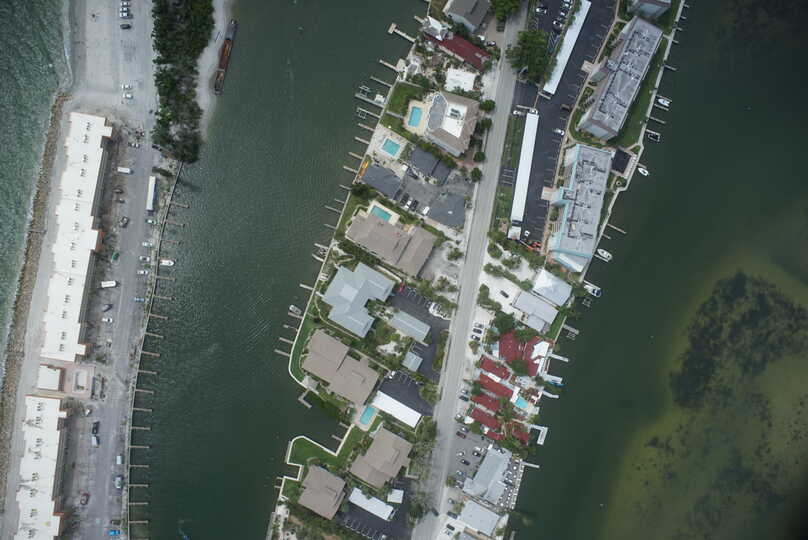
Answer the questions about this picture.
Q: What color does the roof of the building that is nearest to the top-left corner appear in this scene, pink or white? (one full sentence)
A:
In this view, the roof of the building that is nearest to the top-left corner is white.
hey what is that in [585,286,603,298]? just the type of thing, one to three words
boat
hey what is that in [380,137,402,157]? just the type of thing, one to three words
swimming pool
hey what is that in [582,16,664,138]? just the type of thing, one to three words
building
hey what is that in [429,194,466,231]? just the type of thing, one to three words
house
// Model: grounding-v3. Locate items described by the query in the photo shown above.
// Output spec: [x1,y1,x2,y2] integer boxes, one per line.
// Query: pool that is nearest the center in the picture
[369,204,392,223]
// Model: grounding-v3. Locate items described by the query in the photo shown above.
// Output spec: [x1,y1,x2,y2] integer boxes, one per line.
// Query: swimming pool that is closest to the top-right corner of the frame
[407,105,424,128]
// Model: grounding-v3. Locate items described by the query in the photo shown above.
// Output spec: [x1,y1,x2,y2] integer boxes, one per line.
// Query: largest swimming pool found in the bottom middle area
[359,406,376,426]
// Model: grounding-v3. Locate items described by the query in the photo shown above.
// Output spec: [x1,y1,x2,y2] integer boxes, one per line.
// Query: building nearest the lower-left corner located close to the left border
[13,394,77,540]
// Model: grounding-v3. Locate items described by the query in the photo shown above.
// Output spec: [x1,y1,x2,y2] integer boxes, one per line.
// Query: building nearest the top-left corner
[40,112,121,361]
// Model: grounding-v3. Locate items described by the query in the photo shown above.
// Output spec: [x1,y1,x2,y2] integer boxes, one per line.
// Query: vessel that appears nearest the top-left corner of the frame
[213,18,237,95]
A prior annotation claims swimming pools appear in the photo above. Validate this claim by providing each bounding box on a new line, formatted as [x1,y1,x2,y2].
[513,396,529,410]
[380,137,402,157]
[369,204,392,223]
[359,406,376,426]
[407,105,424,128]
